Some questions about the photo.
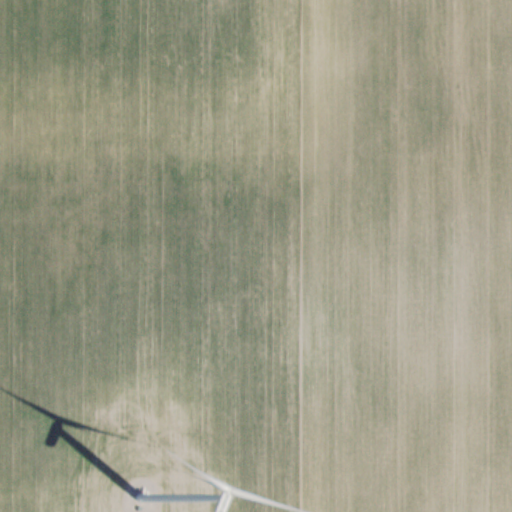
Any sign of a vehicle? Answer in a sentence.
No, no vehicle is visible in the view.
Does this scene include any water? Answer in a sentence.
No, no water is visible.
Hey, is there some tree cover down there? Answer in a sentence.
No, the scene doesn't show any tree cover.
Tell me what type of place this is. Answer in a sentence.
The area seen from above is farmland.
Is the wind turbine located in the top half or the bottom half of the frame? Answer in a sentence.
Seen from above, the wind turbine lies in the bottom half of the view.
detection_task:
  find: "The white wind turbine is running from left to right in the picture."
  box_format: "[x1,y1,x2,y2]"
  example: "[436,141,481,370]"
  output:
[133,451,305,512]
